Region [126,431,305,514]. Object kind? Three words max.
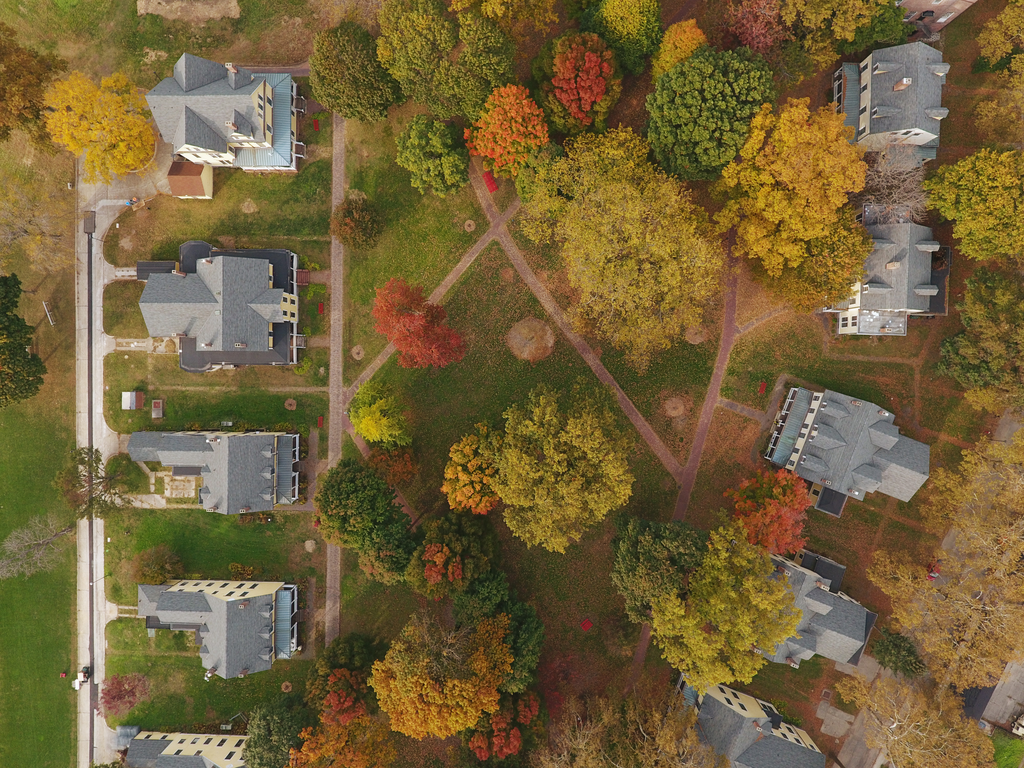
house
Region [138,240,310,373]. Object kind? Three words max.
house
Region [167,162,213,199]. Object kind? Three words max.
building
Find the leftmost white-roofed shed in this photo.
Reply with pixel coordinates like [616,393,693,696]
[122,392,143,410]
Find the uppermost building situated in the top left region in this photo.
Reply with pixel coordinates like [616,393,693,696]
[145,52,307,171]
